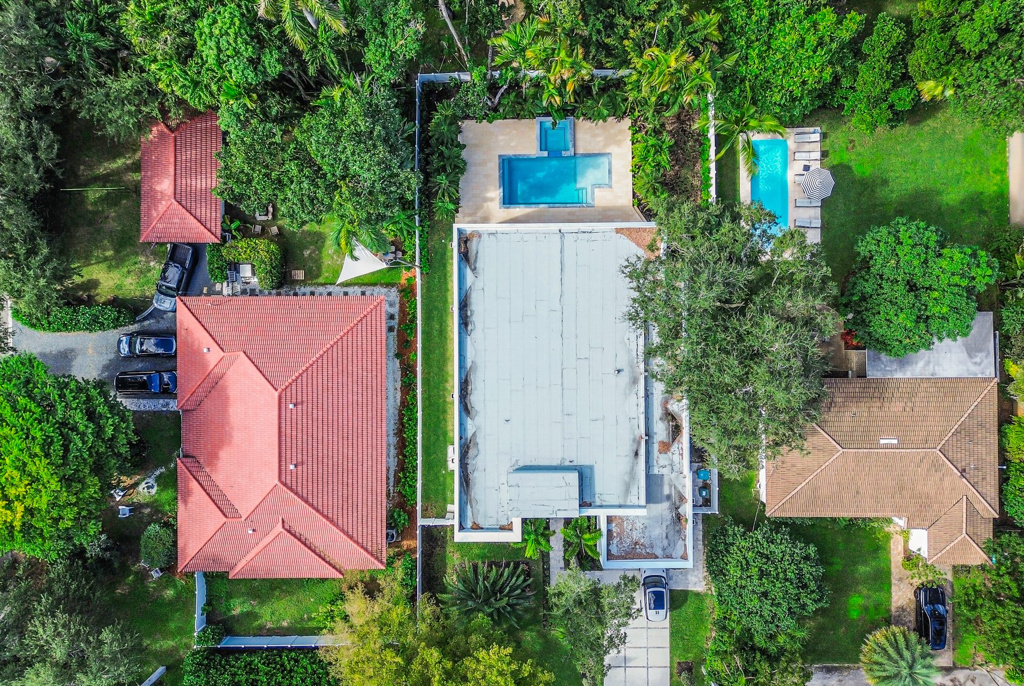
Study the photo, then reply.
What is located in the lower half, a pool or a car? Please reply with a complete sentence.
The feature located in the lower half is a car.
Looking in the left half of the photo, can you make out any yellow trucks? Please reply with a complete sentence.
No, in the left half of the photo there is no yellow truck.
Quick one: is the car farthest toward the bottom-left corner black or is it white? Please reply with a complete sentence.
In this view, the car farthest toward the bottom-left corner is black.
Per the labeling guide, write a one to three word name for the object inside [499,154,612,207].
swimming pool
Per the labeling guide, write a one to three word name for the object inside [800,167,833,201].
umbrella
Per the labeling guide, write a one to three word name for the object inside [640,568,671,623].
car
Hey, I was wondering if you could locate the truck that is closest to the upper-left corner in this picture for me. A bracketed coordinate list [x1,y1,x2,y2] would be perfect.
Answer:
[151,242,202,315]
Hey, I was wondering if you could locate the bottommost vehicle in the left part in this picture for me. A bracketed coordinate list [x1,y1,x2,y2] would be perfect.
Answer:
[113,368,176,398]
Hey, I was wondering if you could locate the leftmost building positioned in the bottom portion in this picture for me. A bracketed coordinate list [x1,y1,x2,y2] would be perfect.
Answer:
[174,295,386,580]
